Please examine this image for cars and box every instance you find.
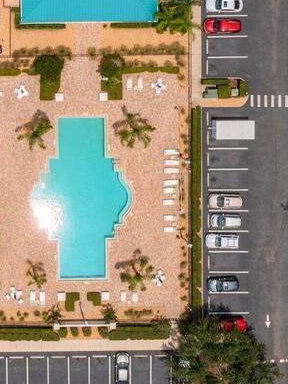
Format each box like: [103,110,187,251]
[207,193,242,210]
[204,233,239,249]
[206,276,239,292]
[203,18,241,34]
[115,351,131,384]
[204,0,242,12]
[215,315,250,332]
[209,213,241,229]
